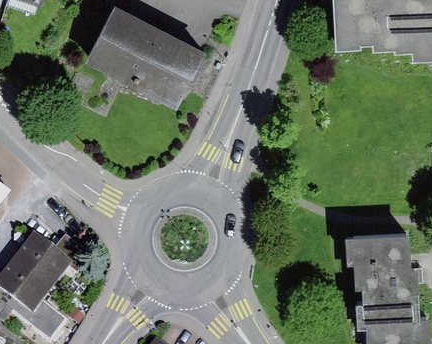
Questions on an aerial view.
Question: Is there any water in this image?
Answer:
No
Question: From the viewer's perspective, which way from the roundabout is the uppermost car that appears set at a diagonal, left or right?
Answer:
to its left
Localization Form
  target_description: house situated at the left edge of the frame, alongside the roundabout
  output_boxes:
[0,230,77,340]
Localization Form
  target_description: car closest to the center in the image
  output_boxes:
[232,139,244,164]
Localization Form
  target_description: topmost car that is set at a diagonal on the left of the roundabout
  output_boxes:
[46,196,68,219]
